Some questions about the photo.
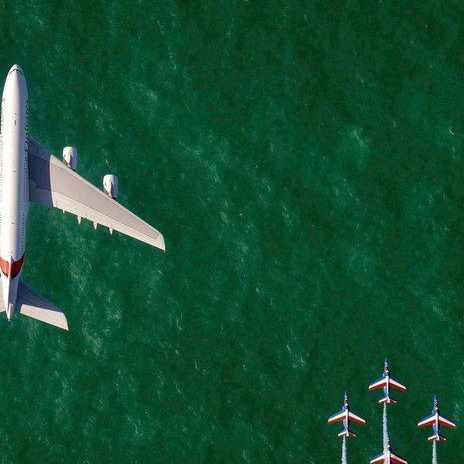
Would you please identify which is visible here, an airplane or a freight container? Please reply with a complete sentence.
This aerial view contains an airplane.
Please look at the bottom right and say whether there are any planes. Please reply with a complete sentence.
Yes, a plane shows up at the bottom right.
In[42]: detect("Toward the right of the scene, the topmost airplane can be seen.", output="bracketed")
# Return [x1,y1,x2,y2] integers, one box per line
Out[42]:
[368,356,406,403]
